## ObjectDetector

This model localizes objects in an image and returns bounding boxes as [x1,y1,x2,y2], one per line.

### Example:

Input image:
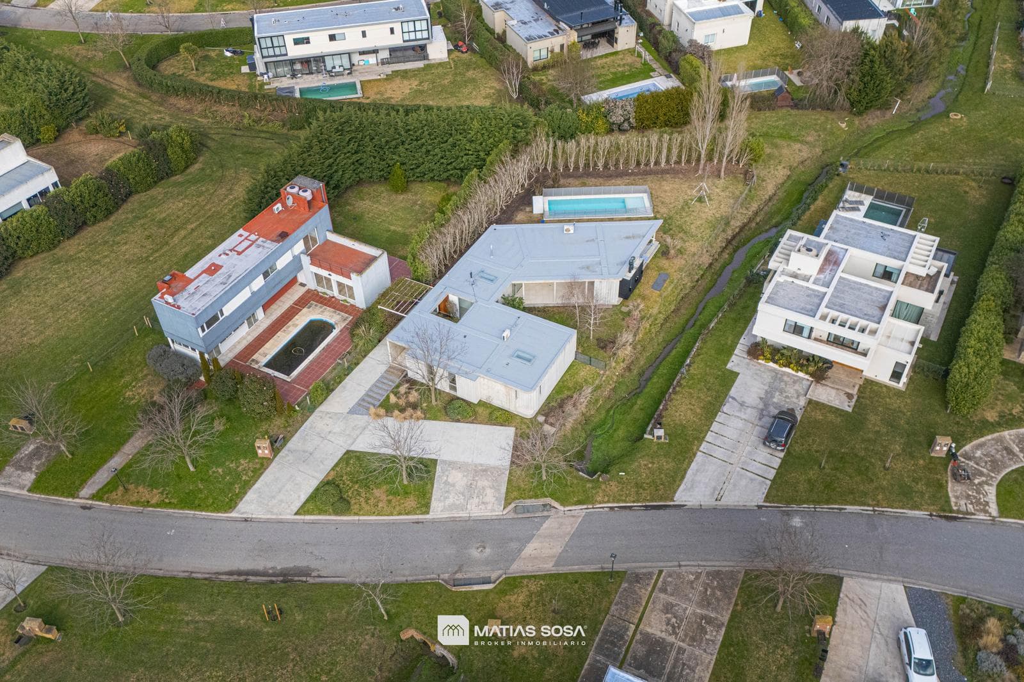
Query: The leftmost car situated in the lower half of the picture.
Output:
[764,409,798,451]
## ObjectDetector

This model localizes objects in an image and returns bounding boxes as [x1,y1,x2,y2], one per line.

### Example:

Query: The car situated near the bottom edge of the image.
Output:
[896,628,940,682]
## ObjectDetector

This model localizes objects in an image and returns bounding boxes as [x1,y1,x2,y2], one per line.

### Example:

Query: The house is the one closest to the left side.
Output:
[0,133,62,223]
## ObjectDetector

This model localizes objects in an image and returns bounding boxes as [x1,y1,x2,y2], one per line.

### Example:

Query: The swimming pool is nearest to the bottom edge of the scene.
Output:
[244,301,353,381]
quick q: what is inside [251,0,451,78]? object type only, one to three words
house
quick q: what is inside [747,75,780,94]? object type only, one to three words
swimming pool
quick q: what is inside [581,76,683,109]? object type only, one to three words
swimming pool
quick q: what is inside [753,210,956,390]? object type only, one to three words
house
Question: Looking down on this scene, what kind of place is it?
residential area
